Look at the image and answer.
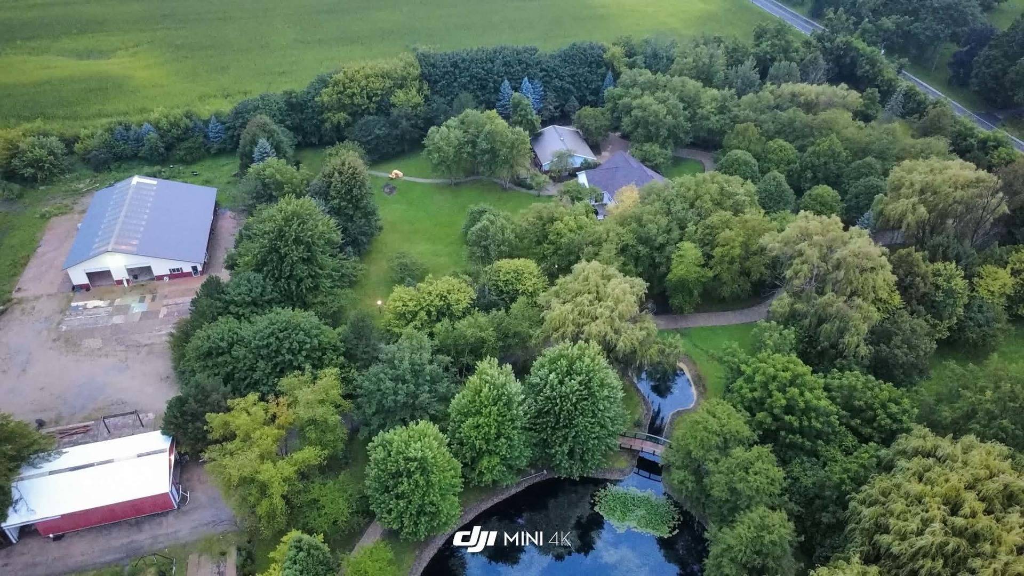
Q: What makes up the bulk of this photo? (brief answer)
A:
trees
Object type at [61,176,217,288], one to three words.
barn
